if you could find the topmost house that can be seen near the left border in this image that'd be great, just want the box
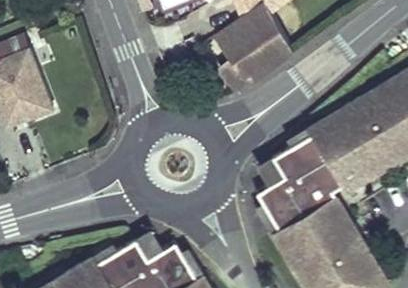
[0,48,54,128]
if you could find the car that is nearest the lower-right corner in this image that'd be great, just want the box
[388,186,406,210]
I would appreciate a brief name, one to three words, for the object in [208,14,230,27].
vehicle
